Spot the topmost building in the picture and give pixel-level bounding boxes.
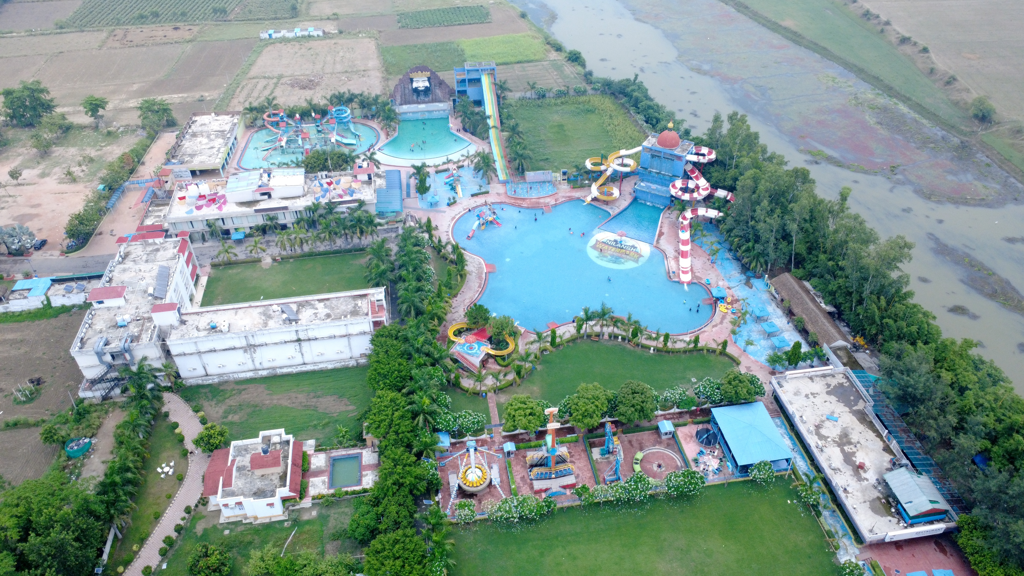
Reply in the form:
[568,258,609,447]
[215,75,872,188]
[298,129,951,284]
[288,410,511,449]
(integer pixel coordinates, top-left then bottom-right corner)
[260,27,326,41]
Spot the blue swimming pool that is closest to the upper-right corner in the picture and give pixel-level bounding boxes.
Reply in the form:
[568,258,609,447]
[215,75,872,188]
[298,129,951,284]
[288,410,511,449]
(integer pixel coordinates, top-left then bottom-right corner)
[595,195,673,245]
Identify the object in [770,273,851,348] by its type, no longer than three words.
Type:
shed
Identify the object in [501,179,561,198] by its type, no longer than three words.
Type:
swimming pool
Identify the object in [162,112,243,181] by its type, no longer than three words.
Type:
building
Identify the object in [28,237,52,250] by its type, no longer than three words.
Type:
vehicle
